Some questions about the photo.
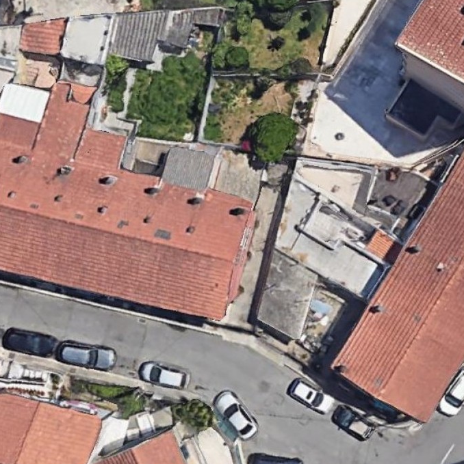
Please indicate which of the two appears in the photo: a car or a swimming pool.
car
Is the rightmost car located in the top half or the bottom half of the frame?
bottom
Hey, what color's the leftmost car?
black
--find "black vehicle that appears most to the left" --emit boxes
[0,326,57,360]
